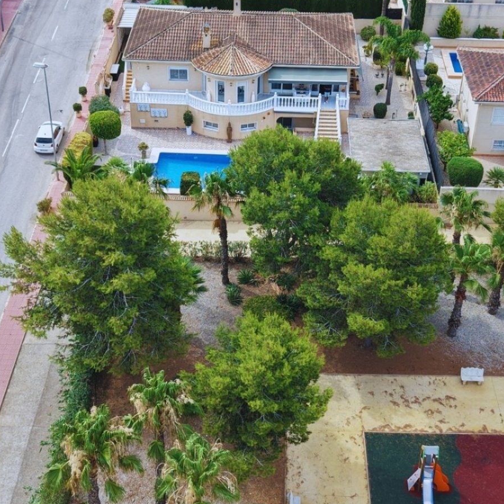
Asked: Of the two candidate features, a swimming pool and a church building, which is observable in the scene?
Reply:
swimming pool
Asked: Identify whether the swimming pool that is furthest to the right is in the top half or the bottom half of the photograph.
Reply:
top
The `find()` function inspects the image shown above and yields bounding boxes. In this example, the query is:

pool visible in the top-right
[442,45,472,76]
